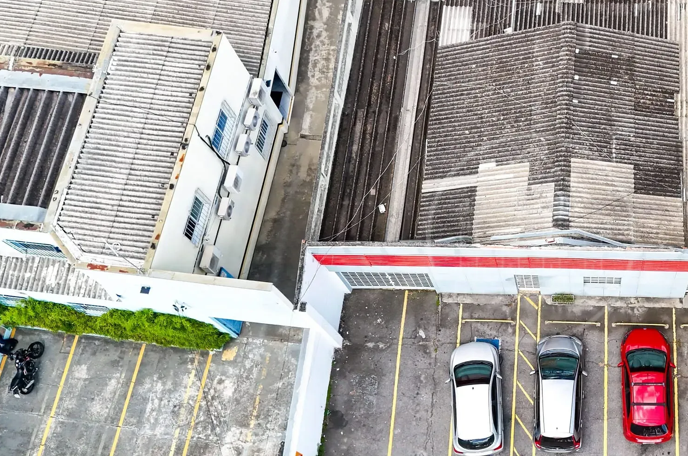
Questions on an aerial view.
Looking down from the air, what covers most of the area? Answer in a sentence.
Most of the picture is covered by buildings.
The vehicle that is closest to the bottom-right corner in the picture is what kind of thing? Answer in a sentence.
I'd identify the vehicle that is closest to the bottom-right corner as an automobile.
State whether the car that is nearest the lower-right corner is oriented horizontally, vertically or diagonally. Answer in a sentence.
Seen from above, the car that is nearest the lower-right corner lies vertically.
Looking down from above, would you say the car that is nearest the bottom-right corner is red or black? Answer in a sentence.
The color of the car that is nearest the bottom-right corner is red.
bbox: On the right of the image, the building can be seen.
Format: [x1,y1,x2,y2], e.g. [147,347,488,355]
[304,0,688,309]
